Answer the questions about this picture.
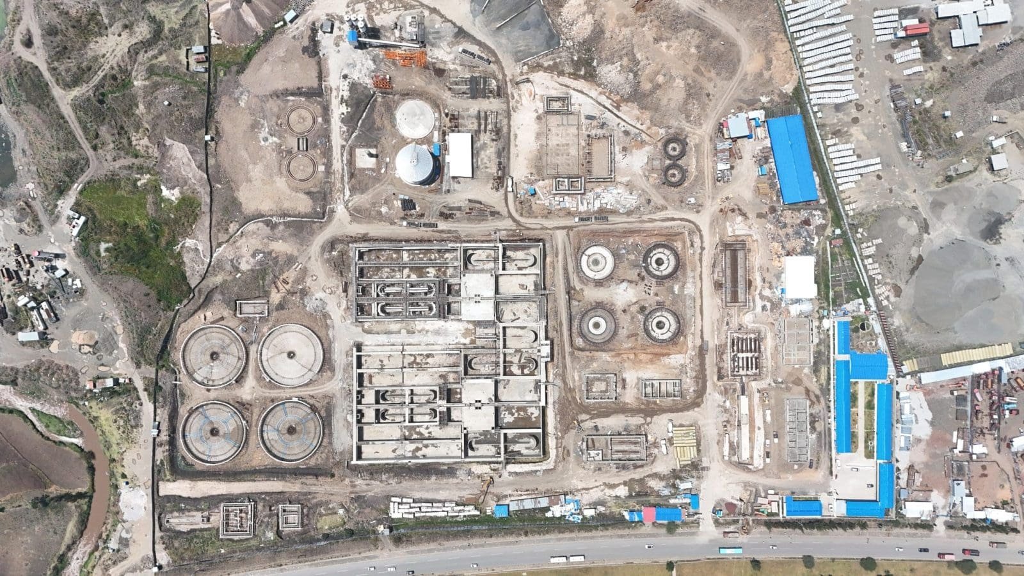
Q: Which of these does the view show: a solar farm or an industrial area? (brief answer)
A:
industrial area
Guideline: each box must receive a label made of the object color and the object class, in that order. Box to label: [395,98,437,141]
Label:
white storage tank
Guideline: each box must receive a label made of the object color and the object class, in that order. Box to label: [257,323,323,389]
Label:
white storage tank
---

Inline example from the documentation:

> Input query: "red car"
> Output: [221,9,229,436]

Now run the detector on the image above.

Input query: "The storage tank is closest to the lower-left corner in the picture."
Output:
[179,398,246,465]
